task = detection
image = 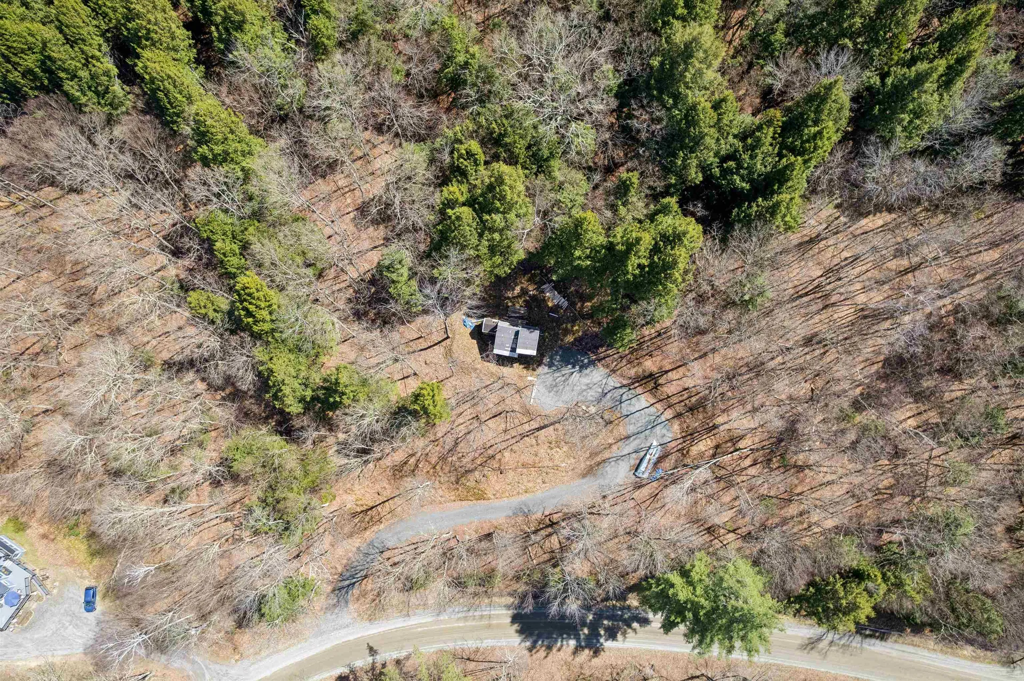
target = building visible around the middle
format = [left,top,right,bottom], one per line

[478,315,540,356]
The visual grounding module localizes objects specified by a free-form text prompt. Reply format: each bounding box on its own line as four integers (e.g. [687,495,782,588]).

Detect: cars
[81,585,99,613]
